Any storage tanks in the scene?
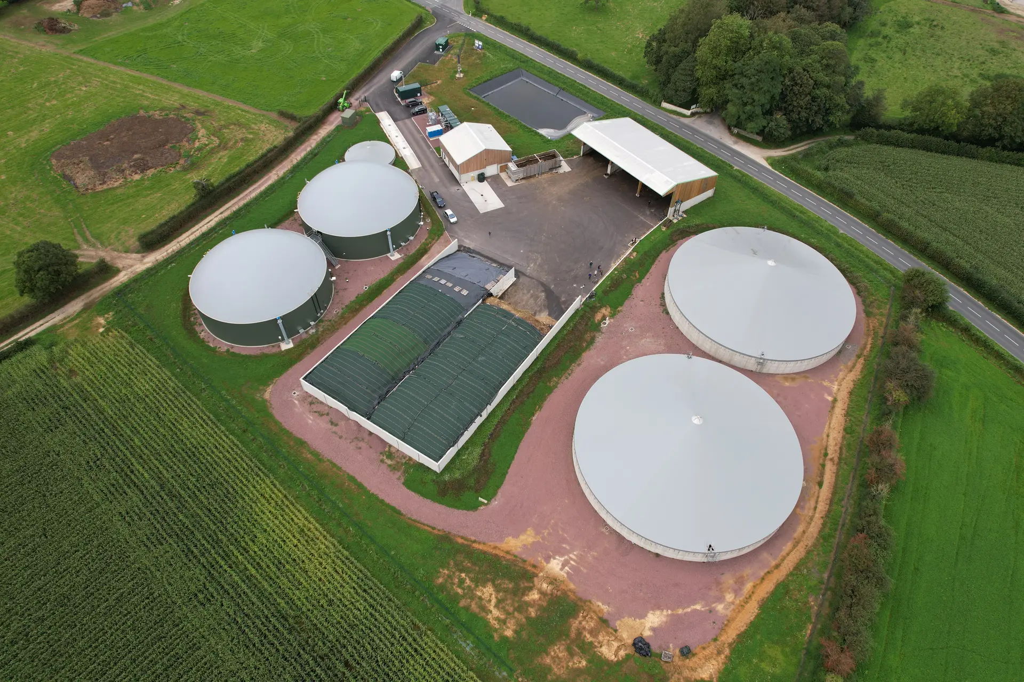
Yes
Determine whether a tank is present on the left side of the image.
Yes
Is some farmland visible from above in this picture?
Yes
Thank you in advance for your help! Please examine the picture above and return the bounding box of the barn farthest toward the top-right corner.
[570,115,722,217]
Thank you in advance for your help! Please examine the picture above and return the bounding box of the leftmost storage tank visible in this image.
[185,223,337,352]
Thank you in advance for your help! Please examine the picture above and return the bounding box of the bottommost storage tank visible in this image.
[571,350,805,568]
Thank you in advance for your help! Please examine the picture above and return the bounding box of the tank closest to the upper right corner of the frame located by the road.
[664,223,857,375]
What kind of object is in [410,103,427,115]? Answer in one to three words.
vehicle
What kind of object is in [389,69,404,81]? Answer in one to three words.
vehicle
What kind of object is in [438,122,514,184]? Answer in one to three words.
building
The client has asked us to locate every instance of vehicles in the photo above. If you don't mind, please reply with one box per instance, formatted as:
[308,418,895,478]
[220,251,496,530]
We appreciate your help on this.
[334,85,354,111]
[429,189,447,207]
[406,97,425,107]
[389,69,404,81]
[444,209,458,224]
[410,103,427,115]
